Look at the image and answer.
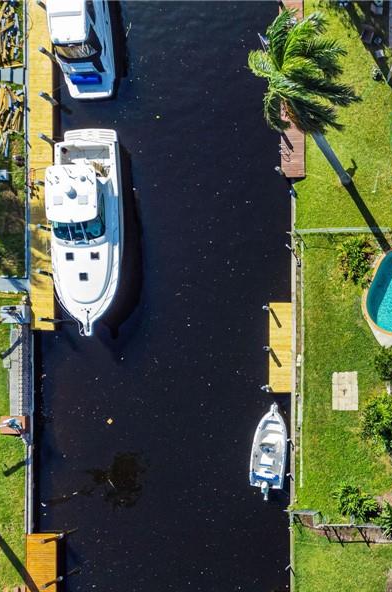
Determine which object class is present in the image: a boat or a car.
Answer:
boat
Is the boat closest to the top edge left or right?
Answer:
left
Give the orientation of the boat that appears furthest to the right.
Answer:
up and down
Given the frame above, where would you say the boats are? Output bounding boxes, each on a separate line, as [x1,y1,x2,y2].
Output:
[38,0,119,104]
[251,402,289,501]
[46,128,123,335]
